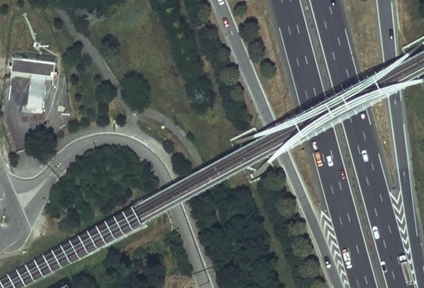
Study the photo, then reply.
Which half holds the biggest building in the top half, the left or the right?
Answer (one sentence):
The biggest building in the top half sits on the left side.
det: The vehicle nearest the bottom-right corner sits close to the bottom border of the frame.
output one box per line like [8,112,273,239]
[398,251,414,284]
